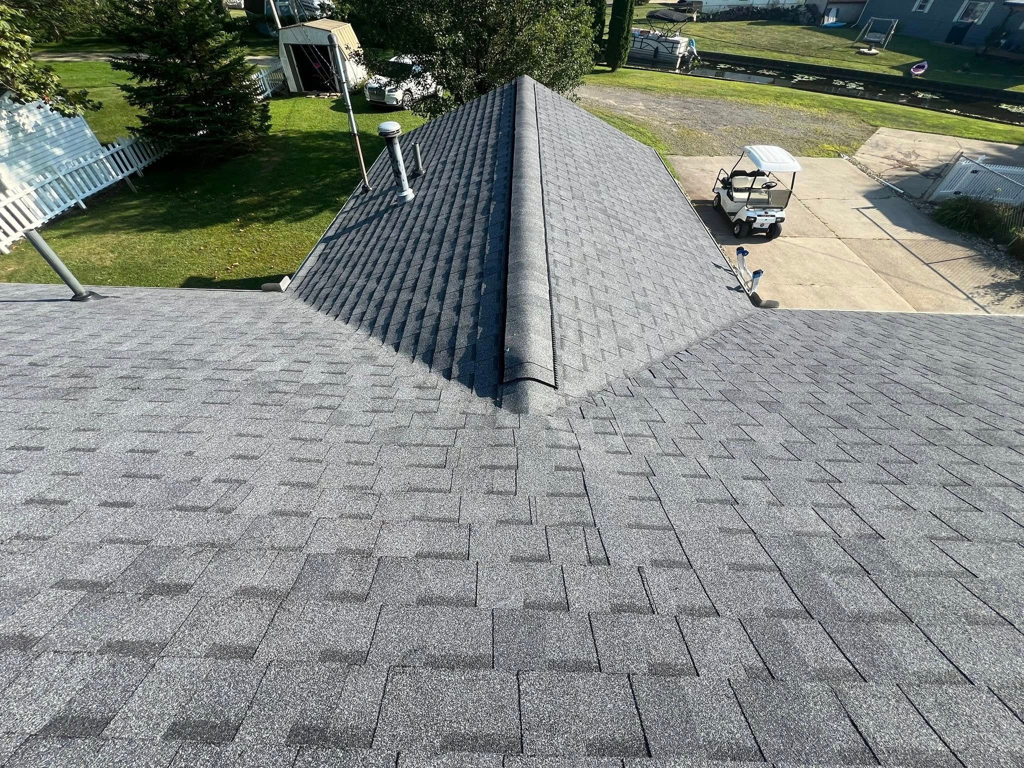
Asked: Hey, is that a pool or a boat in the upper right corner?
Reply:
boat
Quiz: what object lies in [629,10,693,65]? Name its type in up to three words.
boat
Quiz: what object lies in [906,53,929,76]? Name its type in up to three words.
boat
